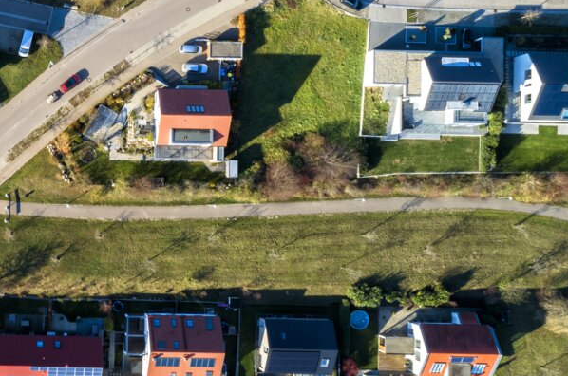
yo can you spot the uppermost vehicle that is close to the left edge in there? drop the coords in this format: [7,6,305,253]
[18,26,36,59]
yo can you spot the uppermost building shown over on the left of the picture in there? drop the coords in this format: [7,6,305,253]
[205,41,243,62]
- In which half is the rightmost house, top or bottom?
top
